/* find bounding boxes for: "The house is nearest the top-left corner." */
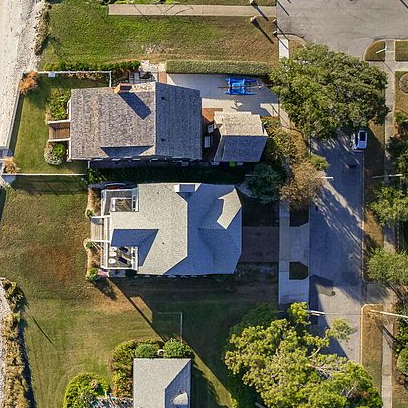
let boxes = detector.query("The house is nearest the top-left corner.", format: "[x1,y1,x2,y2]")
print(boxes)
[48,82,202,164]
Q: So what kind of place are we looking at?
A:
residential area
